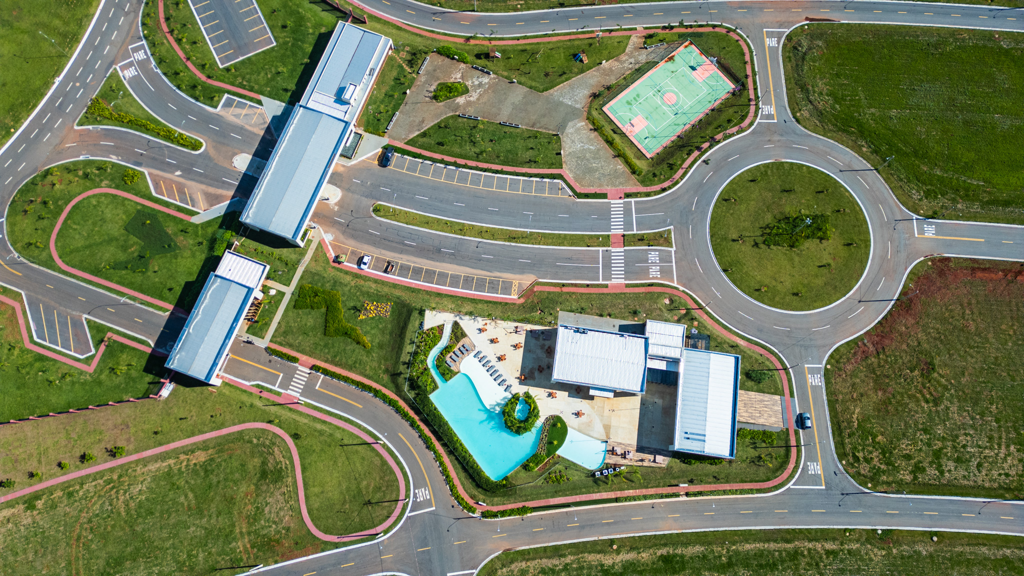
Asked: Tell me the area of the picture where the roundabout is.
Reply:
right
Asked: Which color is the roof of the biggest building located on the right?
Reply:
white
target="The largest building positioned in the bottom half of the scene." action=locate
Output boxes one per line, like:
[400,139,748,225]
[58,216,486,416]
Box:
[550,320,741,459]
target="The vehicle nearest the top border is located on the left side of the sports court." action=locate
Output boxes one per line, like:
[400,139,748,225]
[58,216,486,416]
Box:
[382,147,397,166]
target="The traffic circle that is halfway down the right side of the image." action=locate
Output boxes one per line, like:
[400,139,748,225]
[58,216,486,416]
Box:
[670,121,910,349]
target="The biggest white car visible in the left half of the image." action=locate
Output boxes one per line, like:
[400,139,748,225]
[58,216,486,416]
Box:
[360,253,372,269]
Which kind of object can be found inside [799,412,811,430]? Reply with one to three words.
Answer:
vehicle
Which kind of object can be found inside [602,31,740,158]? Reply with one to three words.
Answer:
sports court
